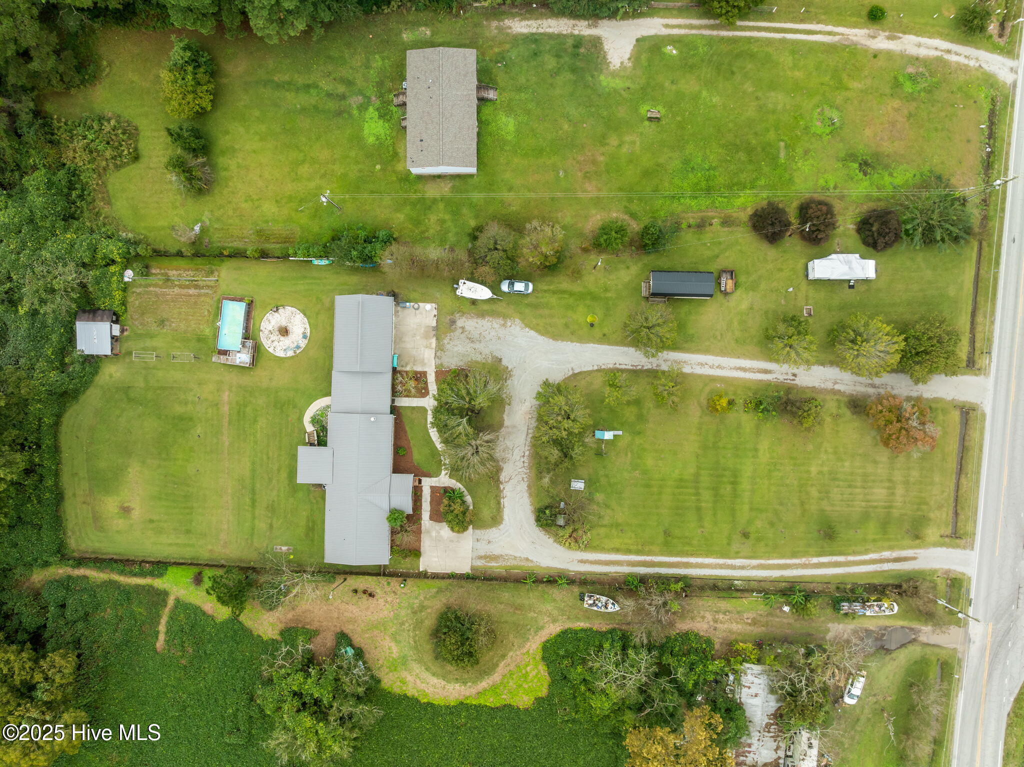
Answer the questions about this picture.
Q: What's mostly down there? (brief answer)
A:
grass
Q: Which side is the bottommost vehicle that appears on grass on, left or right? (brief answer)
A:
right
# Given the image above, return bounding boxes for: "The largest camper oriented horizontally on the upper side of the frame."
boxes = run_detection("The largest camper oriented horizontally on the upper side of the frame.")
[802,254,876,281]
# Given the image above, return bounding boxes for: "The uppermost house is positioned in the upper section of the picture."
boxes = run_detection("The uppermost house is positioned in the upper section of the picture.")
[407,47,477,175]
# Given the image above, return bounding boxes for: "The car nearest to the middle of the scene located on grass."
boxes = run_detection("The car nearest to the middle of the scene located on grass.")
[501,279,533,294]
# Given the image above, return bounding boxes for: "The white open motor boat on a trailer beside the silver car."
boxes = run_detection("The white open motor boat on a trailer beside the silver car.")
[453,278,501,299]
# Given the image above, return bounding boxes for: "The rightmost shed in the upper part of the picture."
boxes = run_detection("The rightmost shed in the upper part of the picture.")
[649,271,715,298]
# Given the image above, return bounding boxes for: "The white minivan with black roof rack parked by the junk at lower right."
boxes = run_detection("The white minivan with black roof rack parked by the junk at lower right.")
[843,669,867,704]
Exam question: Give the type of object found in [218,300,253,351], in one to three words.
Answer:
swimming pool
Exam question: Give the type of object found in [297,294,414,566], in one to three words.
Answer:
house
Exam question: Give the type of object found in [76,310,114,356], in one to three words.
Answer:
shed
